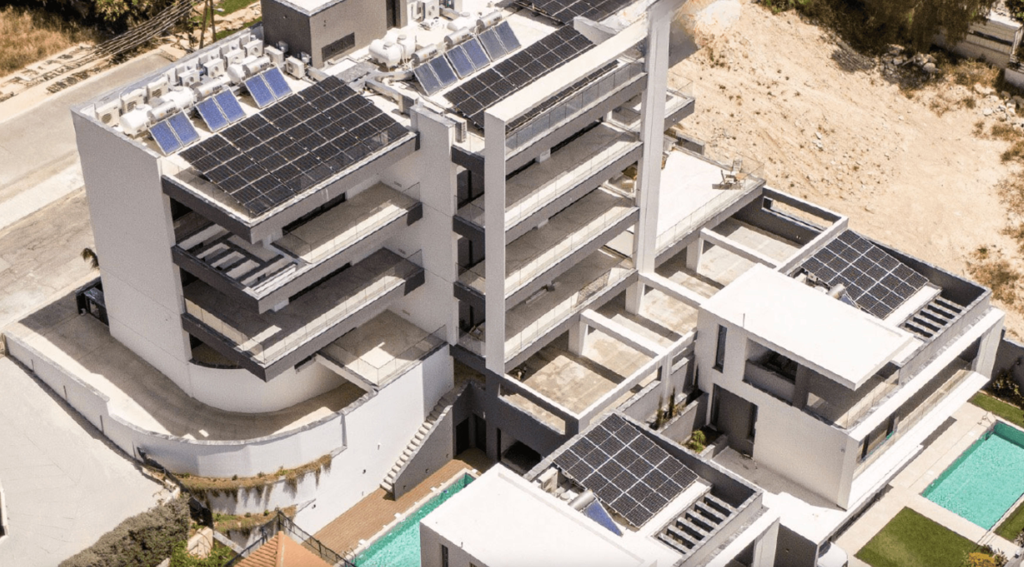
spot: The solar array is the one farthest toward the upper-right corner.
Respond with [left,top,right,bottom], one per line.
[802,230,931,320]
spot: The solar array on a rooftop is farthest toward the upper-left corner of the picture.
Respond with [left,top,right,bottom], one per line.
[178,75,410,218]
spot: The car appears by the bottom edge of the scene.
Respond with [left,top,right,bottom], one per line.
[816,539,858,567]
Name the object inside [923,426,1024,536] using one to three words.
swimming pool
